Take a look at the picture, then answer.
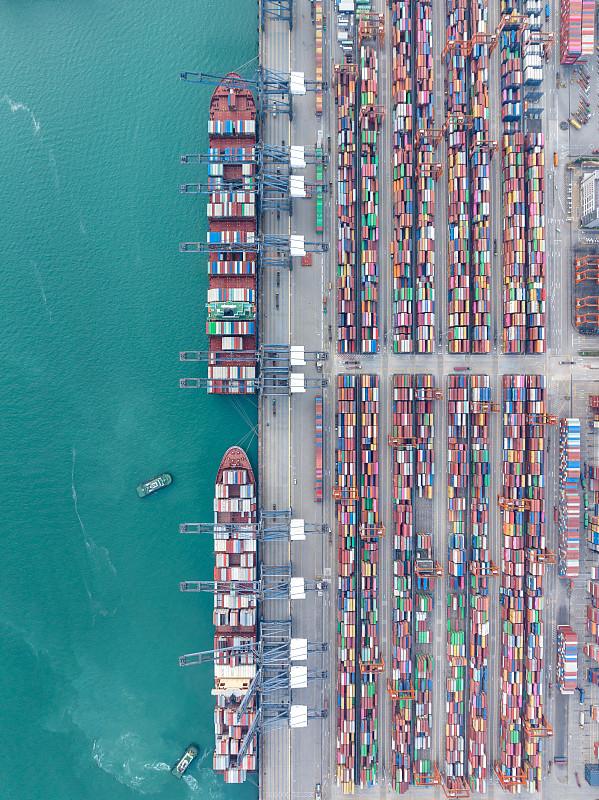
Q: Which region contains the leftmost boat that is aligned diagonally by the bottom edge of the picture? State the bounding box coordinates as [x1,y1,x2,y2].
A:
[171,745,198,777]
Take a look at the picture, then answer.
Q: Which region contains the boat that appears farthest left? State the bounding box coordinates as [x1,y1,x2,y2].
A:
[137,473,170,498]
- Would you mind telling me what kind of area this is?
port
